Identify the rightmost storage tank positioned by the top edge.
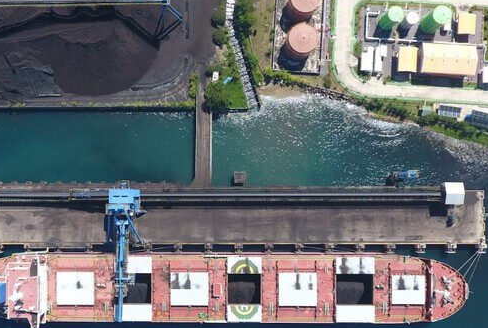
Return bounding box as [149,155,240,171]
[420,5,452,33]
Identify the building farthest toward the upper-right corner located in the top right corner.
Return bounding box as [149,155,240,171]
[452,13,476,38]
